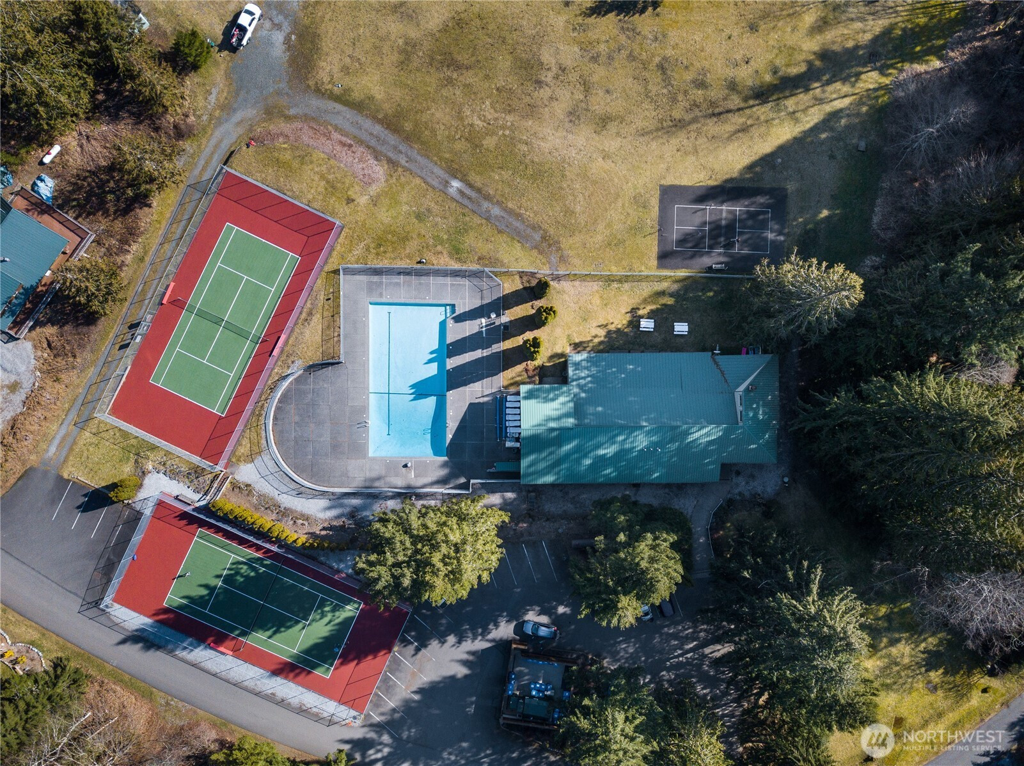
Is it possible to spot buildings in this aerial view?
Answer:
Yes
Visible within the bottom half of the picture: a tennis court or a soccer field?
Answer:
tennis court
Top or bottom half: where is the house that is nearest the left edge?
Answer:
top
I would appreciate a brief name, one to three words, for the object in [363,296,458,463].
swimming pool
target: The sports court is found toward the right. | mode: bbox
[657,185,787,271]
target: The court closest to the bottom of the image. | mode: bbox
[113,492,409,714]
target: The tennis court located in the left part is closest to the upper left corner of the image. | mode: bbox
[108,171,342,470]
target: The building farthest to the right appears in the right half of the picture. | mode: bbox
[495,352,782,484]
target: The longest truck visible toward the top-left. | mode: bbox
[231,5,259,53]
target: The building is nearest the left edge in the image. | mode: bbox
[0,181,99,341]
